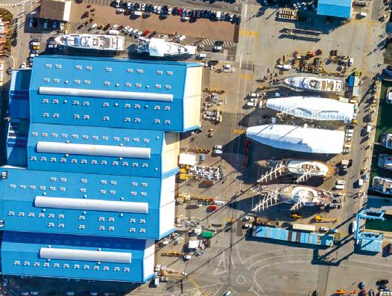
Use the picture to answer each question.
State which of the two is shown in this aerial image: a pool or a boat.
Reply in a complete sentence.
This aerial view contains a boat.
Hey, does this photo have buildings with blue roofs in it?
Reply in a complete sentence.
Yes, I can see a building with a blue roof in this picture.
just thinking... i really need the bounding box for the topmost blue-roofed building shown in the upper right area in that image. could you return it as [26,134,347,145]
[317,0,356,18]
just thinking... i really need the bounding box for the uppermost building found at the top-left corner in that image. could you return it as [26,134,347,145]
[39,0,78,21]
